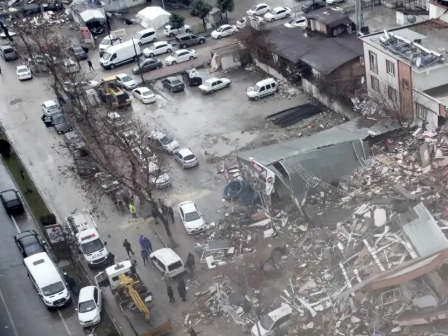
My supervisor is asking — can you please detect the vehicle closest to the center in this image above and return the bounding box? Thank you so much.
[173,148,198,171]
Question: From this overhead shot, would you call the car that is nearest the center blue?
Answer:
No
